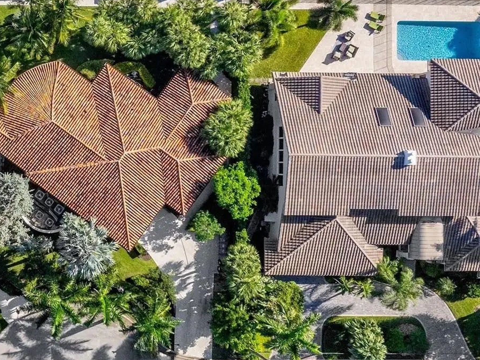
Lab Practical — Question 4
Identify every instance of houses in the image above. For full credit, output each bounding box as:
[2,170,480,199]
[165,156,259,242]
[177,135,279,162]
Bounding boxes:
[258,59,480,275]
[0,61,233,251]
